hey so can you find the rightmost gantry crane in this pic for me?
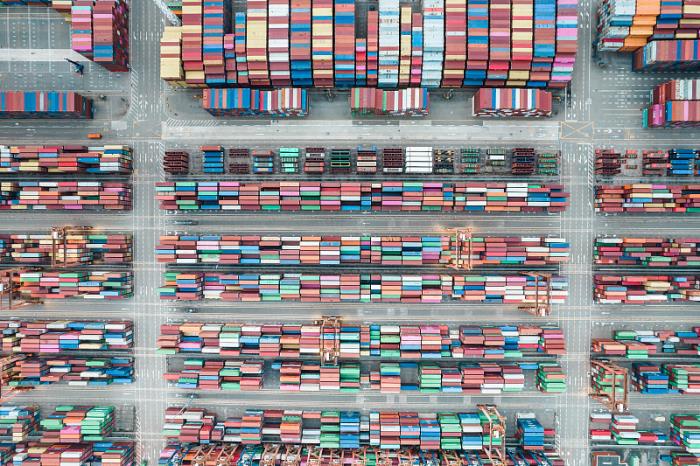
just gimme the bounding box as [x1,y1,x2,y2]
[587,355,623,409]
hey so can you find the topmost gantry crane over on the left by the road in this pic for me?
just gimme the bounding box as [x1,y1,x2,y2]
[51,223,88,270]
